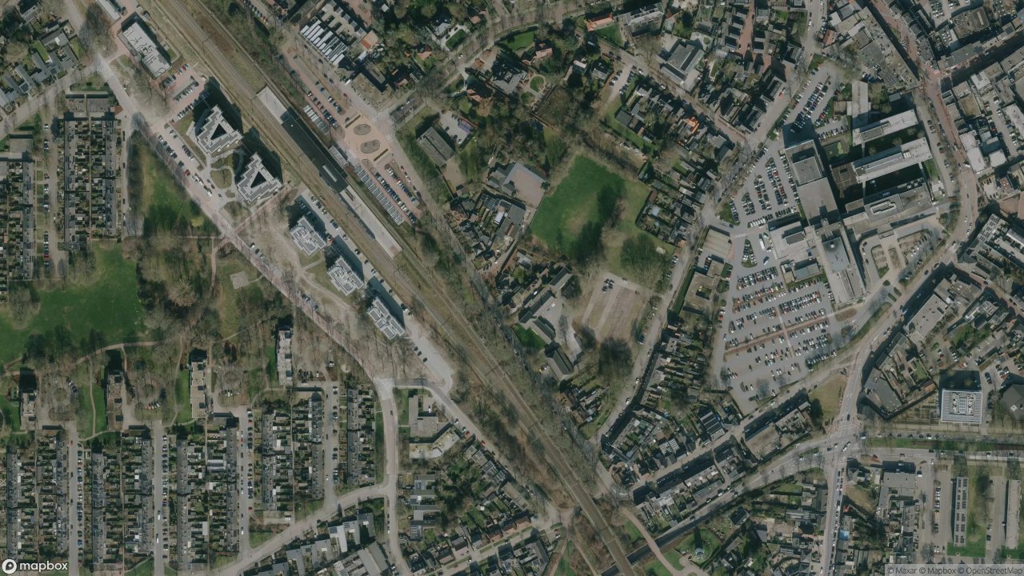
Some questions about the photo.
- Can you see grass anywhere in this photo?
Yes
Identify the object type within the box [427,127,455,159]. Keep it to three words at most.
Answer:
building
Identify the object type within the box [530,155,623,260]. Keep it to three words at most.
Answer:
sports field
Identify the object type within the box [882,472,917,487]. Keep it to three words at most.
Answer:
building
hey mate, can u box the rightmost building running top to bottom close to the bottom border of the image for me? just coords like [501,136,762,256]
[1007,474,1020,550]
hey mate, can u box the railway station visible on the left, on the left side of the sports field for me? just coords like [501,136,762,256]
[256,86,405,259]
